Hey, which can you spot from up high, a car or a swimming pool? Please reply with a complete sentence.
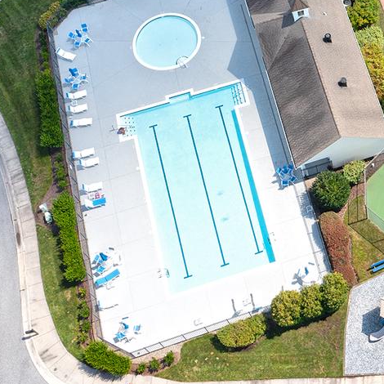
The image shows a swimming pool.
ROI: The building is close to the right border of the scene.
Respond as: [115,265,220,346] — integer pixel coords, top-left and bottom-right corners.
[244,0,384,178]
